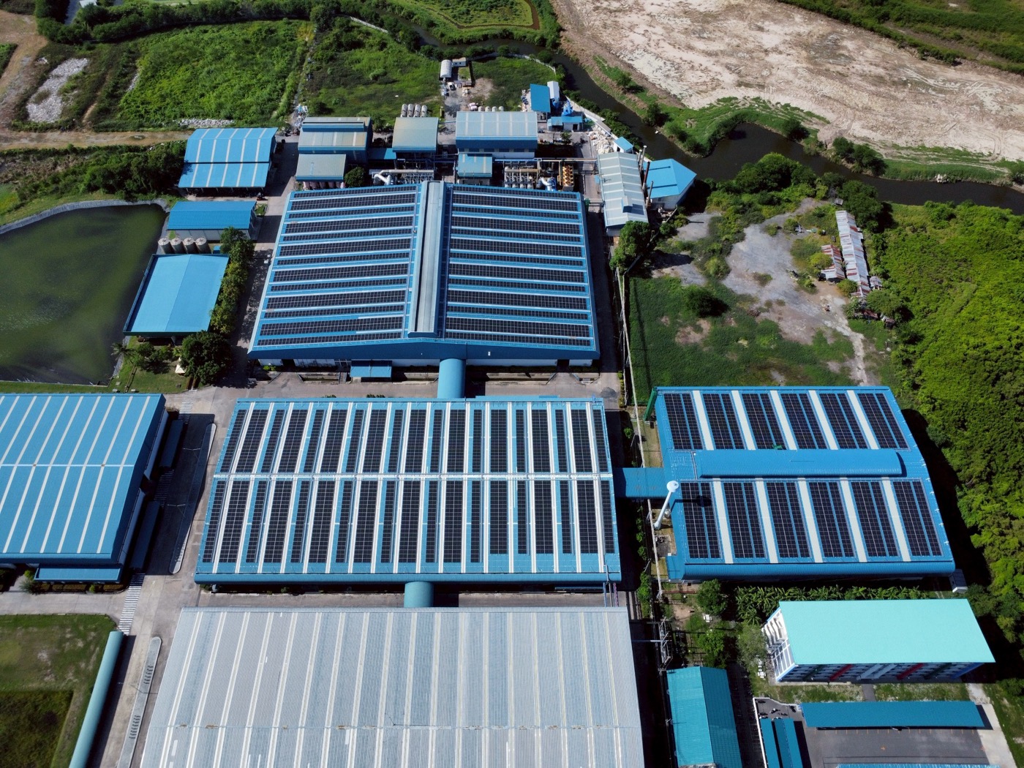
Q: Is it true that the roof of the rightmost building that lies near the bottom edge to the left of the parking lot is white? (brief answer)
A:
No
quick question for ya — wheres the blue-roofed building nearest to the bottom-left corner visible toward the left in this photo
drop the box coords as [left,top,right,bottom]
[0,394,192,586]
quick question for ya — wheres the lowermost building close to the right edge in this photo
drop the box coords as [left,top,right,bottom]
[764,599,994,679]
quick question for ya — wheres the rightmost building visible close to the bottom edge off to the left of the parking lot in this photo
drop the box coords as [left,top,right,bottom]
[666,667,740,768]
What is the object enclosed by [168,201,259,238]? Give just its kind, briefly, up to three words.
shed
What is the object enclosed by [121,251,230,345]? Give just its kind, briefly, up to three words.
shed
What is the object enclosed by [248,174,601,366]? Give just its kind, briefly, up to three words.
building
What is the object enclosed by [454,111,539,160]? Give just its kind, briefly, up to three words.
building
